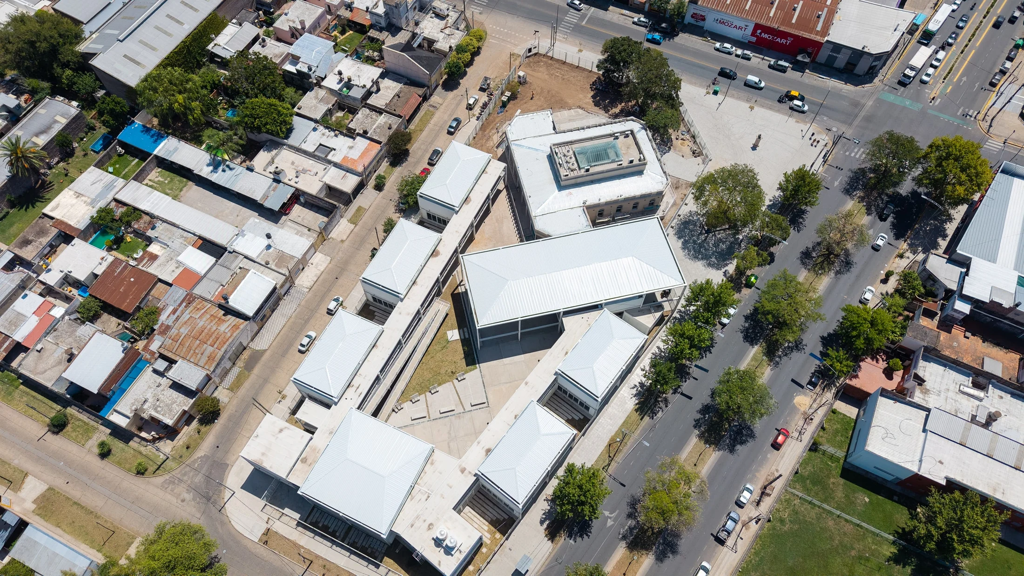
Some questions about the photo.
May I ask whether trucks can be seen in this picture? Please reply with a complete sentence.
Yes, there is a truck in the image.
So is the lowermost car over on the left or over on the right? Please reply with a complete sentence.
It is on the right.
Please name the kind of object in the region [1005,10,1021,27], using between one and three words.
vehicle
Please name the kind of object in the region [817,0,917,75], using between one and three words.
building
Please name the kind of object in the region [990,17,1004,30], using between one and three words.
vehicle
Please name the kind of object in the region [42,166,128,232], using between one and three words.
house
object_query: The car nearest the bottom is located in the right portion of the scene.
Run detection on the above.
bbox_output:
[691,555,715,576]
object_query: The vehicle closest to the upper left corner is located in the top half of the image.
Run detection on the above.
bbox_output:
[282,197,301,217]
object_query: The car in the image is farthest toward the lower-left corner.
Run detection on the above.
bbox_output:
[296,329,319,356]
